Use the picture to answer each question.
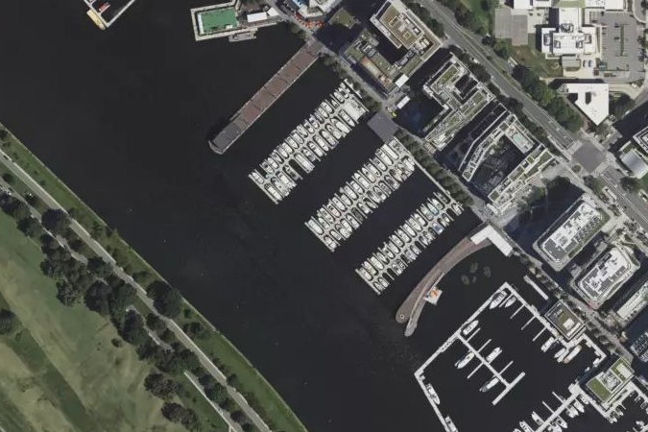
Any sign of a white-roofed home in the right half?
Yes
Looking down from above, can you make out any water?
Yes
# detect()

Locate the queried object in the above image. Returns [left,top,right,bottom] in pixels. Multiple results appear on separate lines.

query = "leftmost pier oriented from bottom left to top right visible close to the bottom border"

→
[414,282,521,432]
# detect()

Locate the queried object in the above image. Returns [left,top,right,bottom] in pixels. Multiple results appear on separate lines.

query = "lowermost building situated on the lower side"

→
[587,357,634,406]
